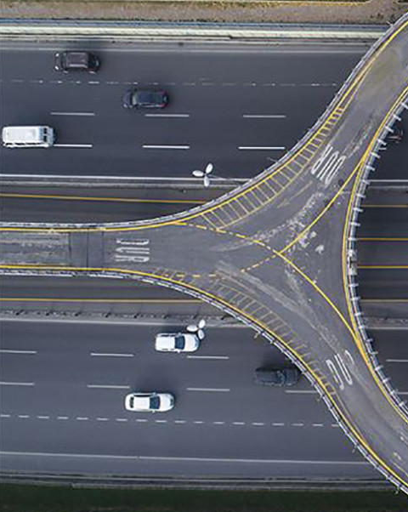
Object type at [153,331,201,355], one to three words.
car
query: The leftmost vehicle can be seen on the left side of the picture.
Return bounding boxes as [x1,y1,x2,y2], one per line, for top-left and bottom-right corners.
[3,123,57,149]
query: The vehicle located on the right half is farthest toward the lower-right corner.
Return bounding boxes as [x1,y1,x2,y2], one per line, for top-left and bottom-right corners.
[254,364,302,389]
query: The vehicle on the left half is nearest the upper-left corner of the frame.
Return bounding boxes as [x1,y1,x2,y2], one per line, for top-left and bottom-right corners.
[55,50,102,74]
